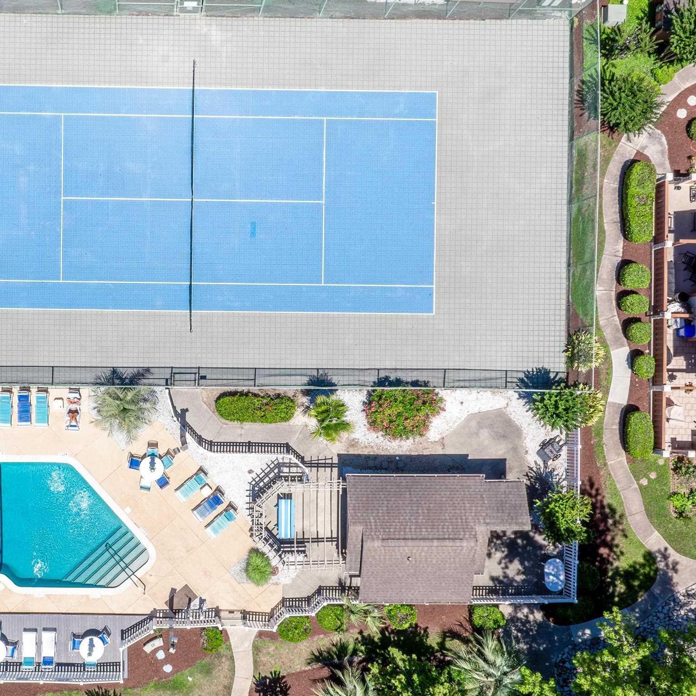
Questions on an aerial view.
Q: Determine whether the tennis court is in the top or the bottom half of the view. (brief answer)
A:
top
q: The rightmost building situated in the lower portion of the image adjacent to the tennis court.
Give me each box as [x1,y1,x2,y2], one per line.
[345,471,530,607]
